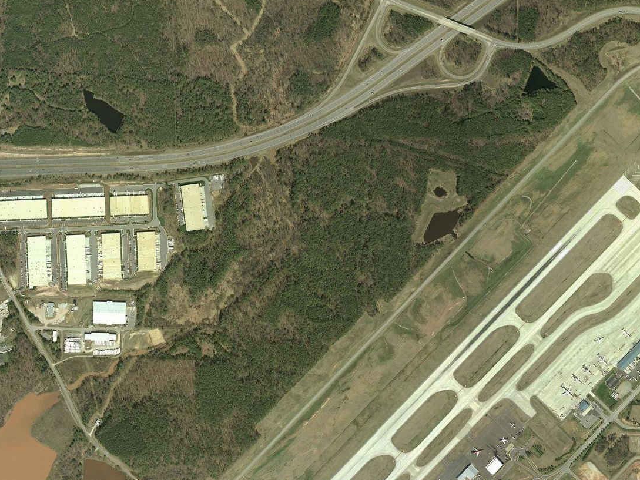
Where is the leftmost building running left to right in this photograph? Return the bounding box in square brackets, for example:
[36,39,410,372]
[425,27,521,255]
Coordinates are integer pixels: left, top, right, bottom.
[0,199,47,220]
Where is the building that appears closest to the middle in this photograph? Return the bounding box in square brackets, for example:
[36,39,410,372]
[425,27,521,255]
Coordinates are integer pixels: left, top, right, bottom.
[181,183,205,231]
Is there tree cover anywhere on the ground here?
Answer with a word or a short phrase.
Yes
